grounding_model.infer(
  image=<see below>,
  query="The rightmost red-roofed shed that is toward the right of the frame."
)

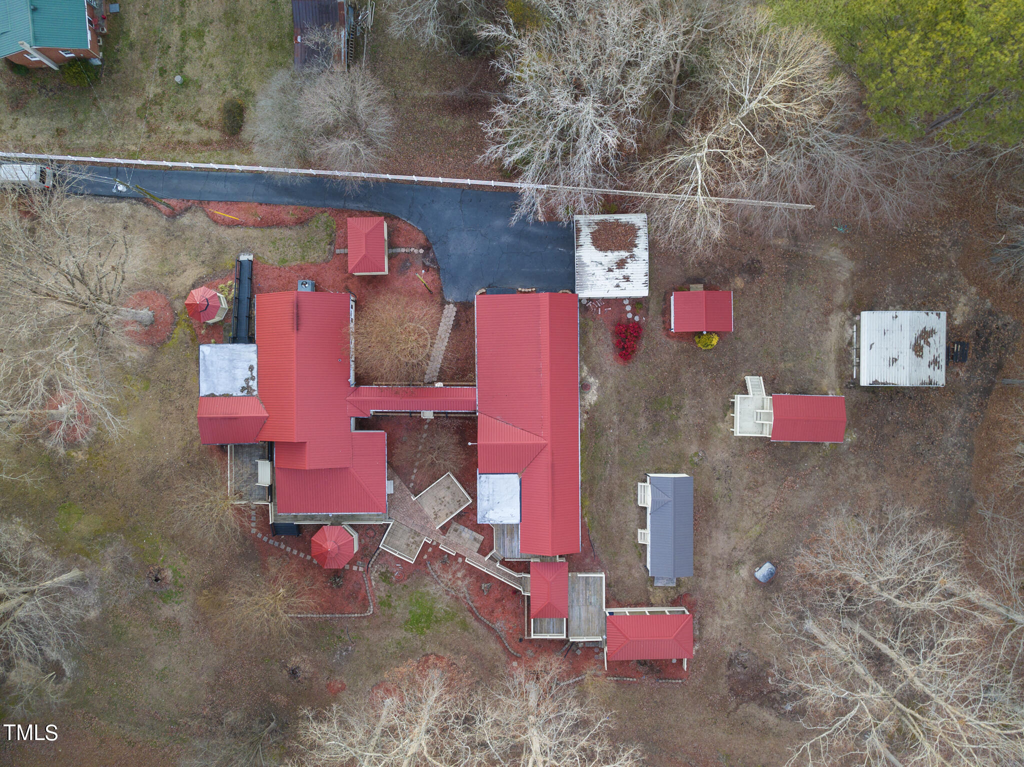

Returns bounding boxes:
[730,376,847,444]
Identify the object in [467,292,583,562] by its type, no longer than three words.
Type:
house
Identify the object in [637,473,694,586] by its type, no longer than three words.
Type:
shed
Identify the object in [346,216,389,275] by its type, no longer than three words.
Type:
building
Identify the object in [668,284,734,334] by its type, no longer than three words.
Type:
shed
